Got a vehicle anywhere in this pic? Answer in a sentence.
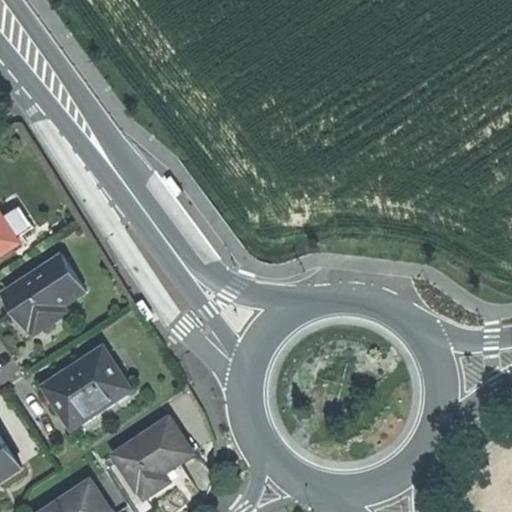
Yes, there is a vehicle in the image.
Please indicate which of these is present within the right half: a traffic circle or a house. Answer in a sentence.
Looking within the right half, you will find a traffic circle.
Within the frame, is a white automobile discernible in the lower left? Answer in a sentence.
Yes, in the lower left there is a white automobile.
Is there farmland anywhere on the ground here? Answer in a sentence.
Yes, some farmland is visible.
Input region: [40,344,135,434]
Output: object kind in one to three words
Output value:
house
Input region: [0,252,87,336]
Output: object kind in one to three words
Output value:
house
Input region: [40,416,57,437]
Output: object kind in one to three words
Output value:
car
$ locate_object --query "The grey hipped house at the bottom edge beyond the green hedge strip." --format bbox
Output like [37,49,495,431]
[40,478,114,512]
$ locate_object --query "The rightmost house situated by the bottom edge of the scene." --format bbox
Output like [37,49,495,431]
[111,416,197,502]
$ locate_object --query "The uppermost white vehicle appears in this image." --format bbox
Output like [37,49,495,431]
[26,394,45,416]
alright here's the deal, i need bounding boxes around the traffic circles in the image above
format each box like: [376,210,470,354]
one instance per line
[239,288,451,500]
